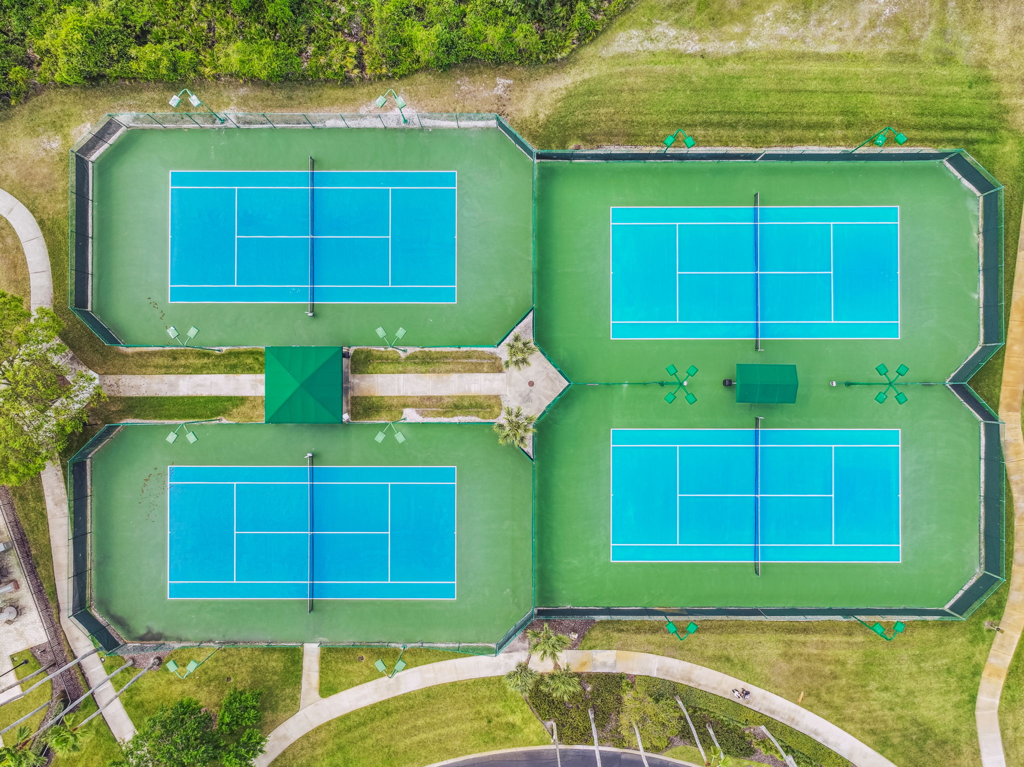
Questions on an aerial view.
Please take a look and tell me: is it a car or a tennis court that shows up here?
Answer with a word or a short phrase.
tennis court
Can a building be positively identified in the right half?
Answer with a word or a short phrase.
No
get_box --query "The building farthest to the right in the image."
[265,346,348,424]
